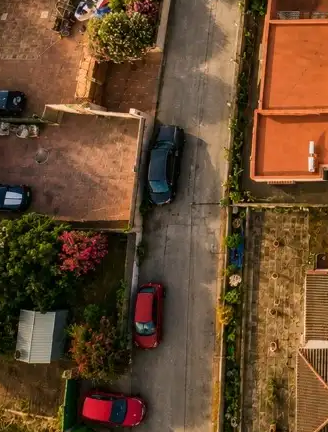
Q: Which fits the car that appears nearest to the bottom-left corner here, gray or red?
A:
red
